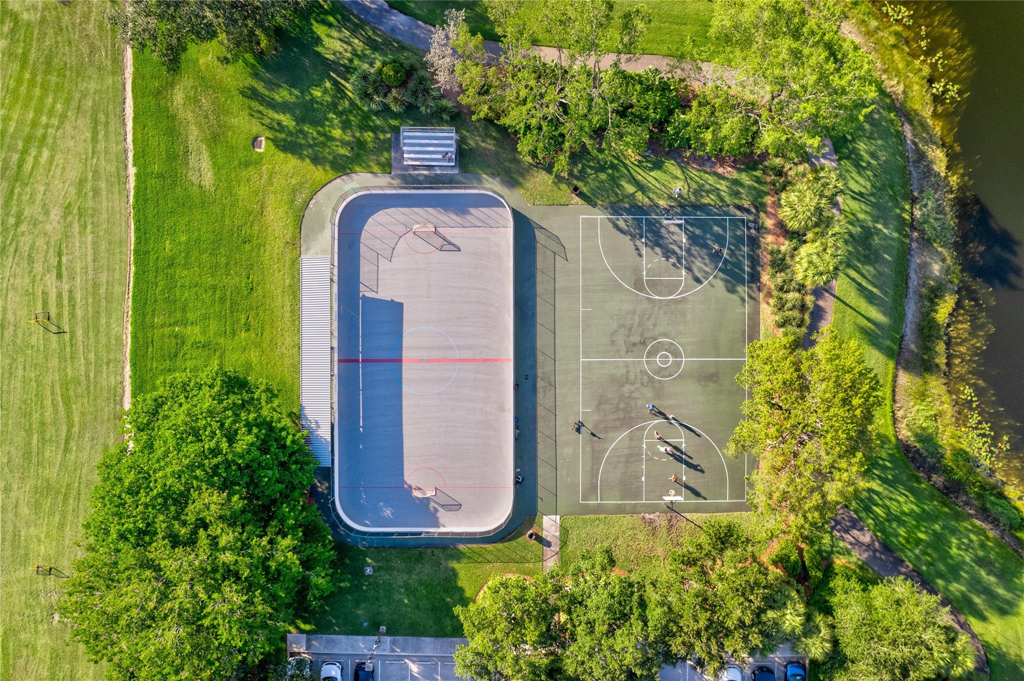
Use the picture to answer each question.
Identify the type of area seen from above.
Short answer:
sports ground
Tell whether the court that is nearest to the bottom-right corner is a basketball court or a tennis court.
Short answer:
basketball court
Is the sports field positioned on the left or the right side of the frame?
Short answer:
left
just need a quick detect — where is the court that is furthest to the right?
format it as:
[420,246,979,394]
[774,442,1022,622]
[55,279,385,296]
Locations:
[557,205,760,515]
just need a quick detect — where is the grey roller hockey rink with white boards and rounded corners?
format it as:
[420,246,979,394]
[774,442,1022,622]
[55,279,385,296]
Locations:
[333,188,513,533]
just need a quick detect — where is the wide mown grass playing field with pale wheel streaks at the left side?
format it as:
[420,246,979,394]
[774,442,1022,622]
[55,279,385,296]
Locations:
[0,0,128,681]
